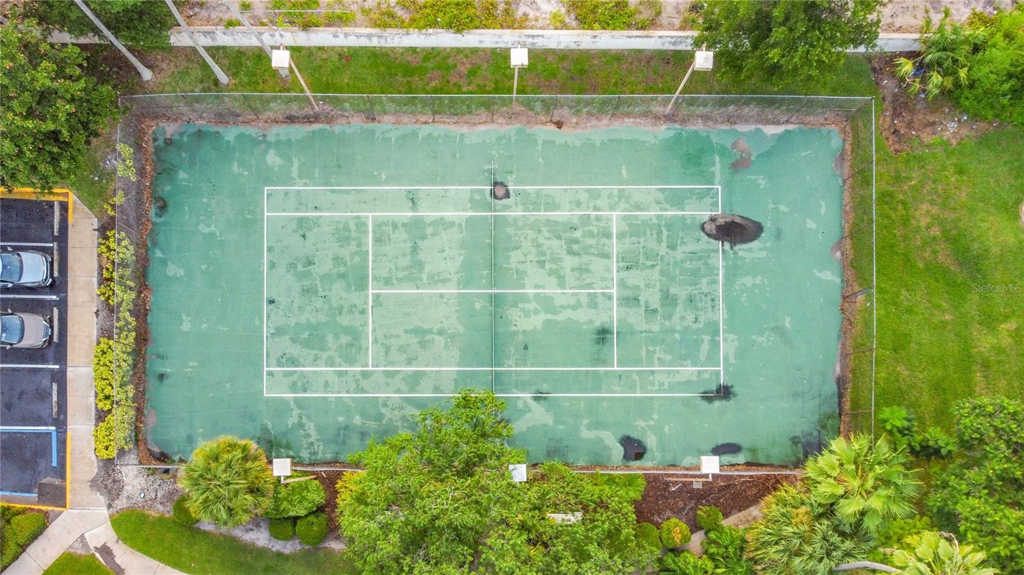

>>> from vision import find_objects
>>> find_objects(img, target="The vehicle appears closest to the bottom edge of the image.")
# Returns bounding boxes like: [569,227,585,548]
[0,306,52,351]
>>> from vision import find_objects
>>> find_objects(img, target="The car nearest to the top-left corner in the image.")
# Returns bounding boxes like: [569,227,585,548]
[0,244,53,290]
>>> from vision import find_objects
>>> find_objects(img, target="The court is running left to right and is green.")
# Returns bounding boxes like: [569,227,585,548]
[147,123,842,466]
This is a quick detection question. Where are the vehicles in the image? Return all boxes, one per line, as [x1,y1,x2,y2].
[0,244,53,290]
[0,306,52,351]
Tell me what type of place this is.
sports ground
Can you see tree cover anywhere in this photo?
Yes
